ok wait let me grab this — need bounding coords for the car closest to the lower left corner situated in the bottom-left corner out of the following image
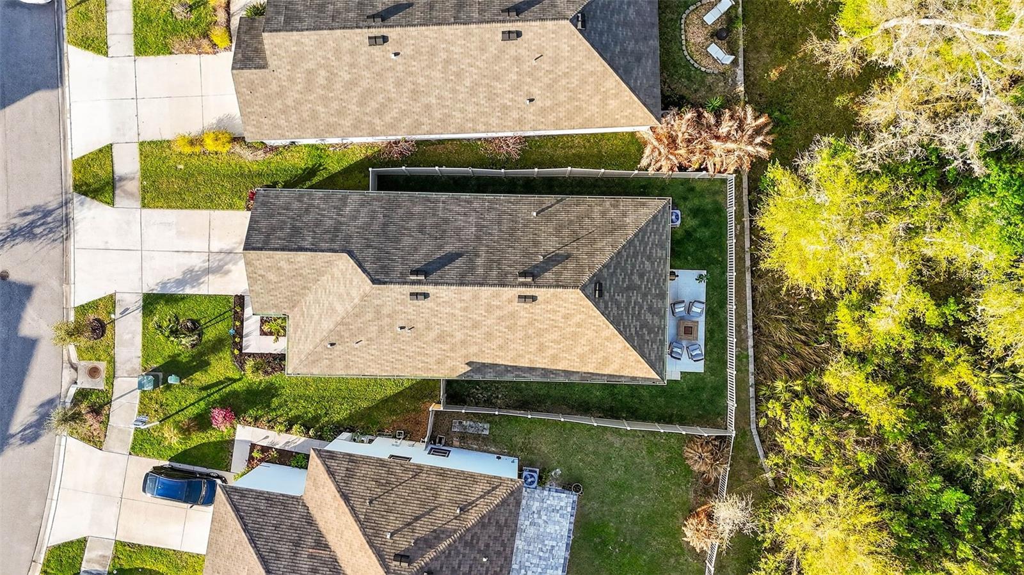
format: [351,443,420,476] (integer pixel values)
[141,463,227,510]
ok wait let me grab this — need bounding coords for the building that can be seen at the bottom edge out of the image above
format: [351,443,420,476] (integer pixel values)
[206,421,525,575]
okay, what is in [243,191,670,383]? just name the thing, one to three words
house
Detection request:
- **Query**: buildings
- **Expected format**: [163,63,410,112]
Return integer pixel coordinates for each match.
[232,0,661,144]
[206,421,525,575]
[243,191,670,383]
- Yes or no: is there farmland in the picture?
No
